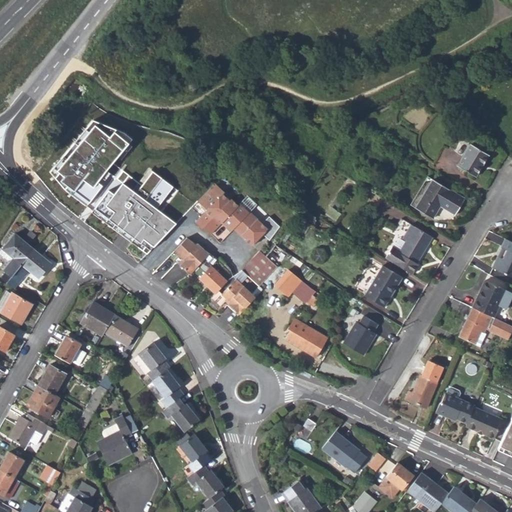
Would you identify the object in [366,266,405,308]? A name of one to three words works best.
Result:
house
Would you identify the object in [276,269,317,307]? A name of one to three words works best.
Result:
house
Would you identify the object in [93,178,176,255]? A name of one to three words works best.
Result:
building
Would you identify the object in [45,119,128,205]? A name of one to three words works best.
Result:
building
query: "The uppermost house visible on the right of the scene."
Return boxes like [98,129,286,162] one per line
[458,144,491,178]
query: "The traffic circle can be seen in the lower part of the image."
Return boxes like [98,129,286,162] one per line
[232,374,263,406]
